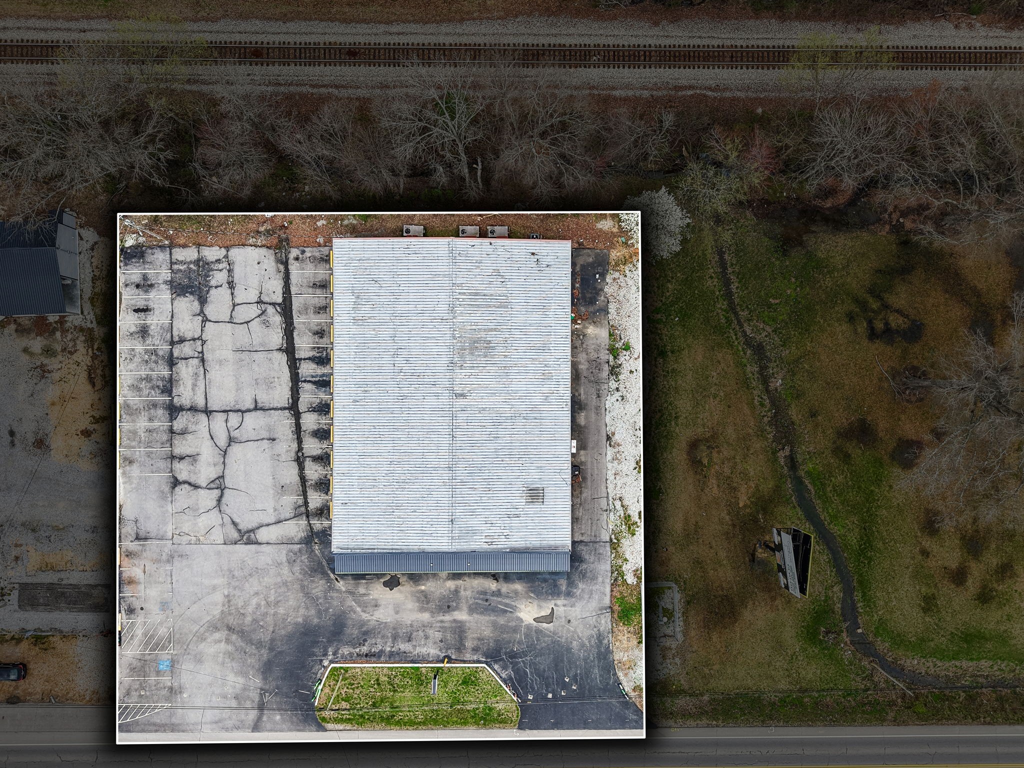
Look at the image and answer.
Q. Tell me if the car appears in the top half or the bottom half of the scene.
bottom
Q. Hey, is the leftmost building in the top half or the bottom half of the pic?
top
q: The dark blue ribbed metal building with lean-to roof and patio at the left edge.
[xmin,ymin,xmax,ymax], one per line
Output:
[0,209,82,319]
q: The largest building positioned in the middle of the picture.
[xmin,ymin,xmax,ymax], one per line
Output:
[332,236,572,573]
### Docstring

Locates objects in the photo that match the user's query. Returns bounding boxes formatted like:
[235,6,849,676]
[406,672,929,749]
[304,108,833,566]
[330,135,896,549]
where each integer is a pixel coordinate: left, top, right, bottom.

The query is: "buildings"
[0,209,82,319]
[332,236,572,573]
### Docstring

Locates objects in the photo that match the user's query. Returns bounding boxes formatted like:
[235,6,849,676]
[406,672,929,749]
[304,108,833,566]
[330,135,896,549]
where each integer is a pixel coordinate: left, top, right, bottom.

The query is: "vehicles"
[0,662,25,684]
